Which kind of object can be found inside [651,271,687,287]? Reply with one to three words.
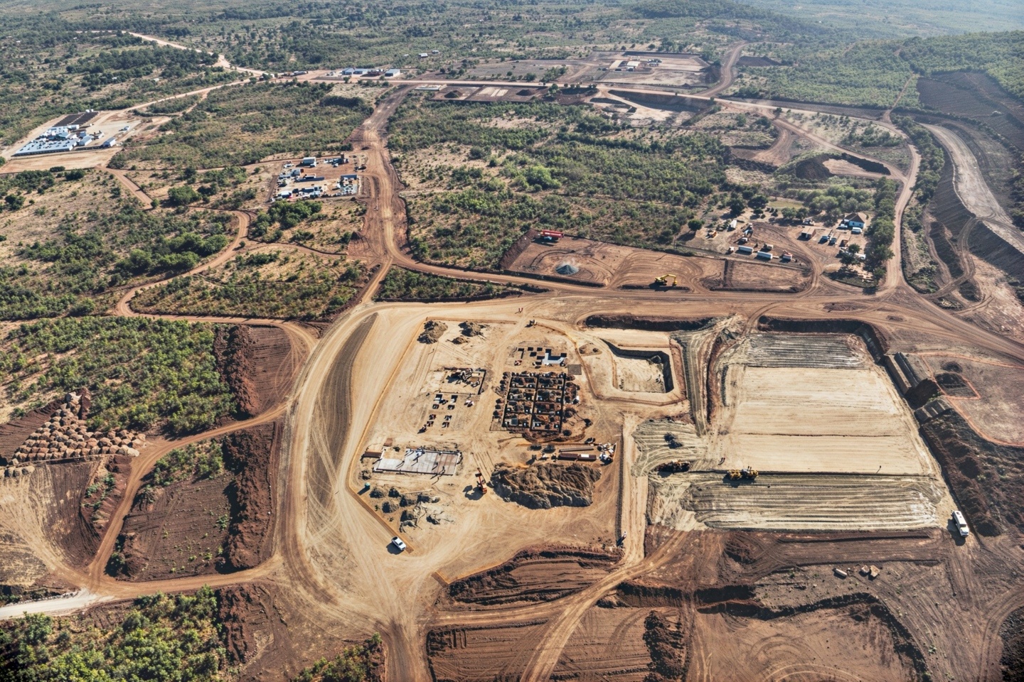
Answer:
work vehicle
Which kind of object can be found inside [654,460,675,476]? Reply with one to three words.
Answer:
vehicle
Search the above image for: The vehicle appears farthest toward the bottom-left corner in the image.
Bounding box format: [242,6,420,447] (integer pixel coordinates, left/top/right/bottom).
[389,535,409,553]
